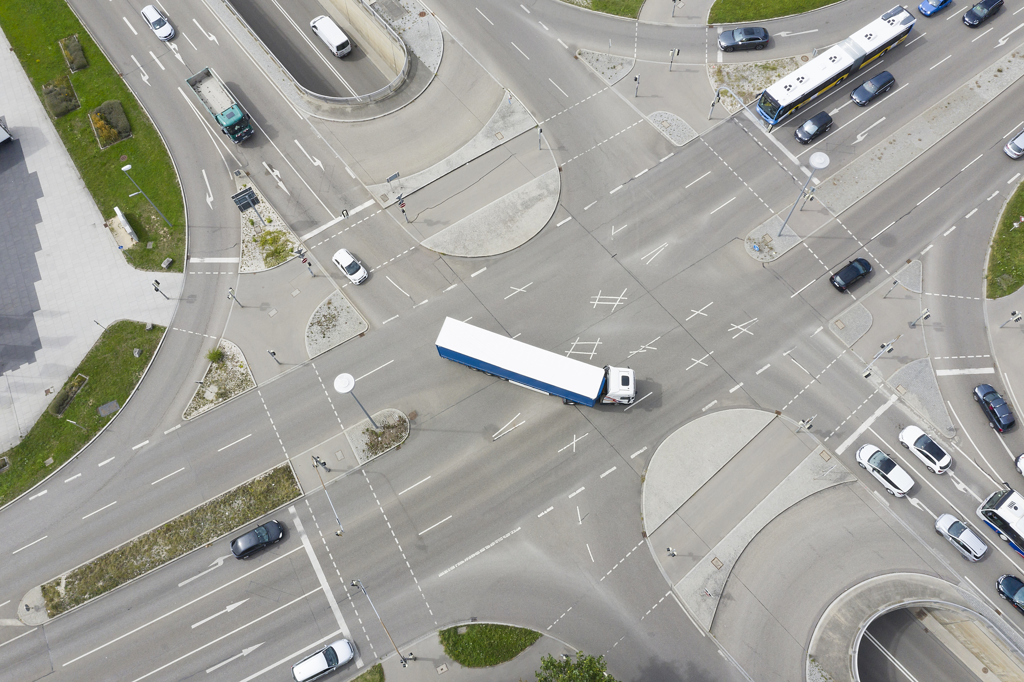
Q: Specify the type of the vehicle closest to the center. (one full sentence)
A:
The vehicle closest to the center in the image is a truck.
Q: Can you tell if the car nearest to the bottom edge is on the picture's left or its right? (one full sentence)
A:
The car nearest to the bottom edge is on the left side of the image.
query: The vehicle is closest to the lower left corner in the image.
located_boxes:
[228,521,286,561]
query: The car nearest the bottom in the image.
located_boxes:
[289,639,356,682]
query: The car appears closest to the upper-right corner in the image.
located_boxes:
[962,0,1007,32]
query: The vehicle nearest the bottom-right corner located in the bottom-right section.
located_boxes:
[992,577,1024,619]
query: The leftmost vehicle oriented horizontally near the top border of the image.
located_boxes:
[718,27,770,54]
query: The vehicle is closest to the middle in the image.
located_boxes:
[435,317,636,412]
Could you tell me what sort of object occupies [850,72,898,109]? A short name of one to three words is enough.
car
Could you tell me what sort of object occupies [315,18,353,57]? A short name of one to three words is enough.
van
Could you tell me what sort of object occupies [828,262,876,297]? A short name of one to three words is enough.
car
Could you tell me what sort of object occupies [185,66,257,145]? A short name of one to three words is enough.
truck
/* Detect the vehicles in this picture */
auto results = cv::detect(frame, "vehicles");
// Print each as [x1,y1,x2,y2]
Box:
[142,7,175,44]
[752,4,916,125]
[896,428,955,478]
[333,250,368,288]
[315,18,353,57]
[1006,133,1024,159]
[850,72,898,109]
[435,317,636,412]
[185,66,257,145]
[853,449,915,502]
[794,111,838,147]
[992,577,1024,619]
[228,521,286,561]
[917,0,955,20]
[932,517,995,570]
[289,639,356,682]
[718,27,770,54]
[962,0,1007,32]
[828,262,876,297]
[972,383,1024,438]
